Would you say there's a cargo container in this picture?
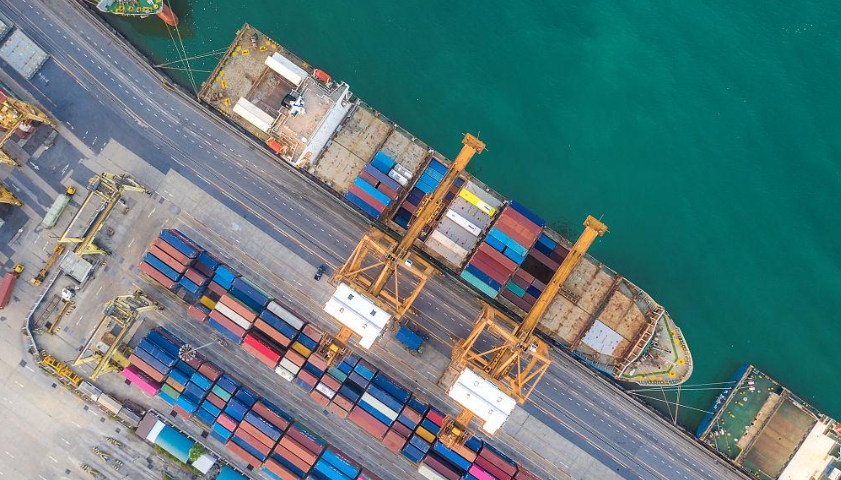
Yes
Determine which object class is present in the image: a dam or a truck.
truck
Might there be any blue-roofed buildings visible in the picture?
Yes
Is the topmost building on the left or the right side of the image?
left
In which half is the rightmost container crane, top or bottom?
bottom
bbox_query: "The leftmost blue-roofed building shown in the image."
[157,422,199,461]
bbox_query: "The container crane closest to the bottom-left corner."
[69,291,168,385]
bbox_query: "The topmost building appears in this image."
[59,252,99,283]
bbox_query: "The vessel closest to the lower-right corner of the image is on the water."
[700,367,841,480]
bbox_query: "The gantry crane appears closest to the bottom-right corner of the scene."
[439,219,609,455]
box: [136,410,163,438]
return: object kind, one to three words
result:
building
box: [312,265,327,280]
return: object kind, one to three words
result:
vehicle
